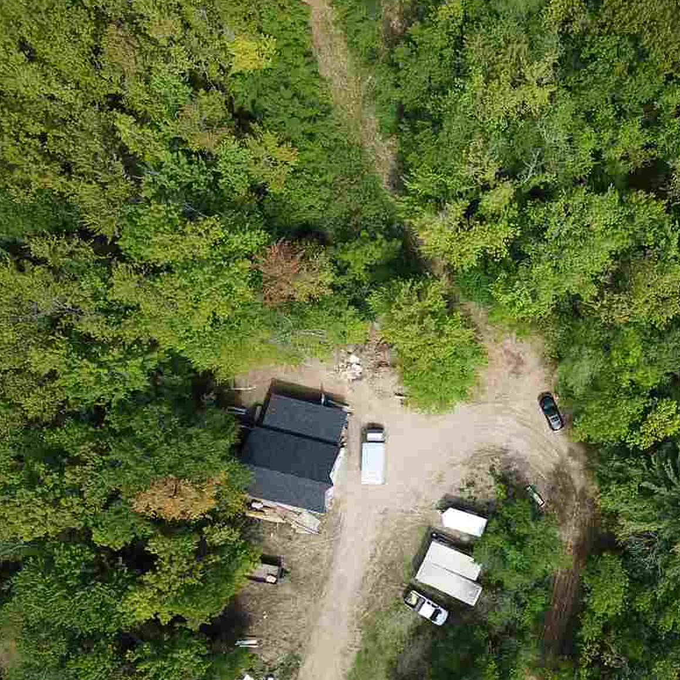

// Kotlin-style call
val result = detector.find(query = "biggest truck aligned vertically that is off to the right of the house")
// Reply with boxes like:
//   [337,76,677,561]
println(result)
[362,426,388,485]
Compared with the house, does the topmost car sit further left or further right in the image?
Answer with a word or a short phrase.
to the right of it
